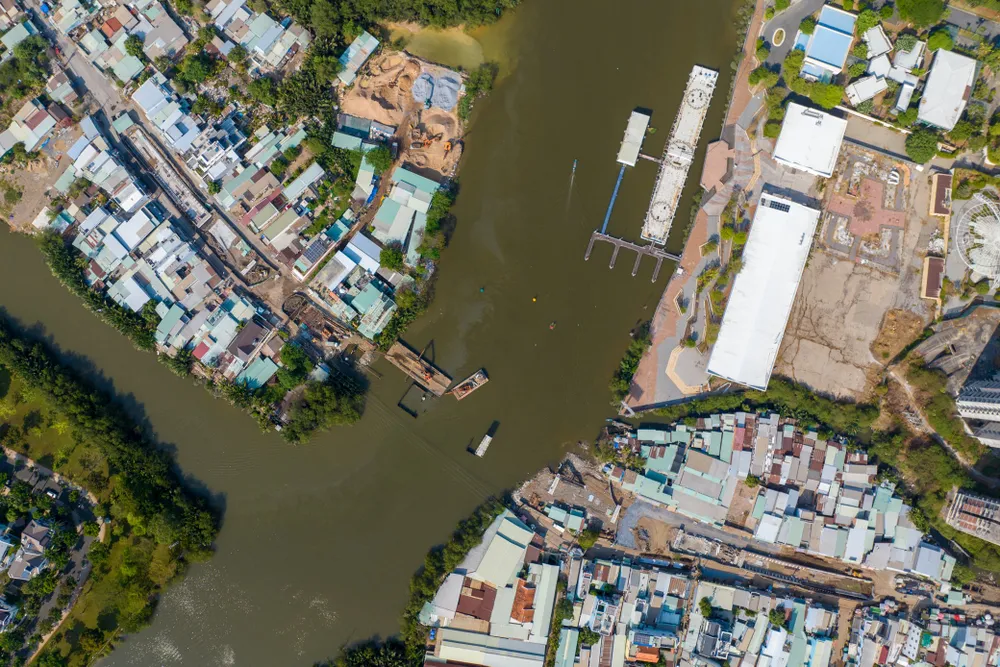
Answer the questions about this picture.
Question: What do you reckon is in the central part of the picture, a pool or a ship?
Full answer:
Visible in the central part of the picture is a ship.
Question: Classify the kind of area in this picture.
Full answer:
What you see here is a residential area.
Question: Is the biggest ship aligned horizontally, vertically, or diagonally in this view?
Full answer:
The biggest ship has been laid out diagonally relative to the frame.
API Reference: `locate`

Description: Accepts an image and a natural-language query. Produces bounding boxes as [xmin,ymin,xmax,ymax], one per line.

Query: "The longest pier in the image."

[639,65,719,246]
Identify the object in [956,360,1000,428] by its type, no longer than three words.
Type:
building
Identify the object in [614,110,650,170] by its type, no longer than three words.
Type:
pier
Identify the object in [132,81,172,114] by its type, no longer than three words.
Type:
house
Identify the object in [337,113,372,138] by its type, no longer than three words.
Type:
house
